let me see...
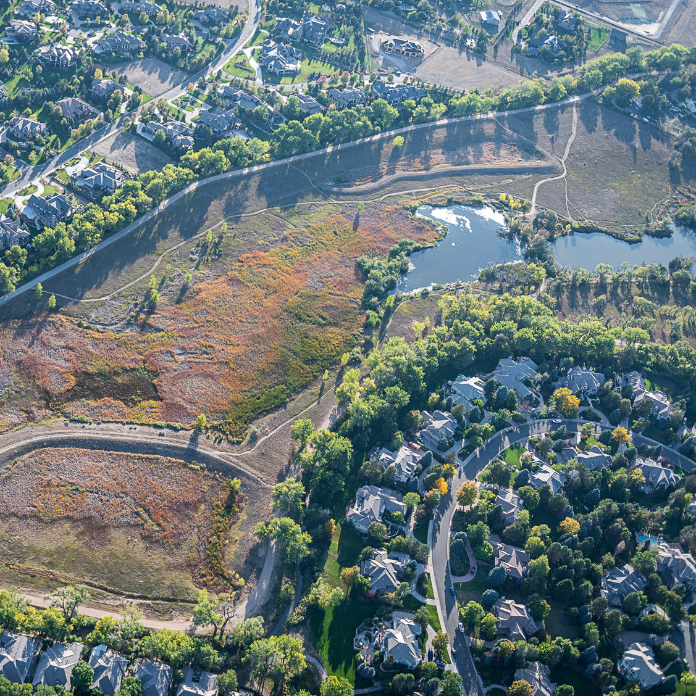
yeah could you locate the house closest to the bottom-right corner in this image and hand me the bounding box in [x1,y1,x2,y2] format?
[616,647,665,695]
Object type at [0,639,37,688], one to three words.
house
